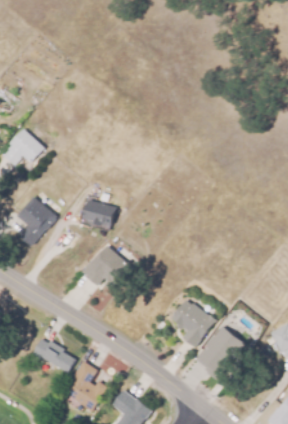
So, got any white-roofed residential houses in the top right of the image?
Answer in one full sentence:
No, no white-roofed residential house appears in the top right of the image.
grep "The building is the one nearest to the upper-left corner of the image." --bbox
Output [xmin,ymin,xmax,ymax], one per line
[2,129,44,166]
